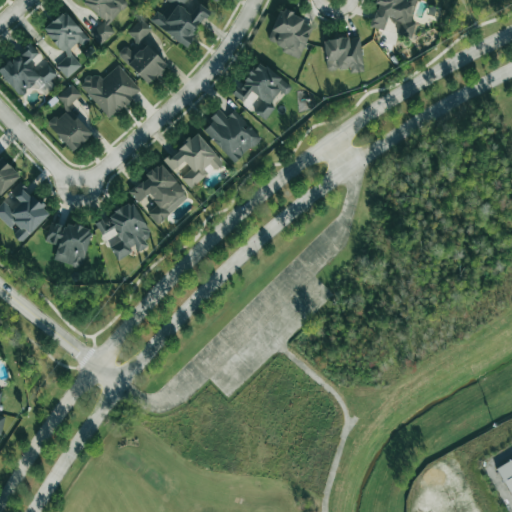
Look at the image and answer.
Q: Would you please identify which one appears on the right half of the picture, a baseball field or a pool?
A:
pool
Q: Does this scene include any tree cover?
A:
Yes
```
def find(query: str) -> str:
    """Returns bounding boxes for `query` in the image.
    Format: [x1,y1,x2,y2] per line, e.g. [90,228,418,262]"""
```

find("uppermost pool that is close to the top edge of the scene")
[414,0,437,24]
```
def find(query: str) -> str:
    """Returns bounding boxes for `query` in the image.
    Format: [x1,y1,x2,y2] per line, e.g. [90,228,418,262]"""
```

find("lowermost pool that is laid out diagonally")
[168,199,194,225]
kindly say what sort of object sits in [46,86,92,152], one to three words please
house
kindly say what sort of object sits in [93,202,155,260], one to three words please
house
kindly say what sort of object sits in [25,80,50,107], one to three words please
swimming pool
